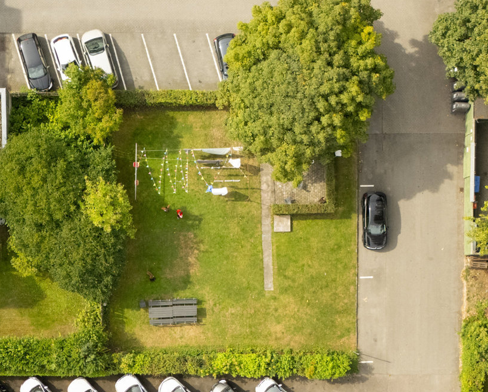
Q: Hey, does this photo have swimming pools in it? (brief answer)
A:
No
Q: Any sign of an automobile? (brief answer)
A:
Yes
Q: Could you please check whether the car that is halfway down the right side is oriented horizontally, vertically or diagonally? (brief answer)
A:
vertically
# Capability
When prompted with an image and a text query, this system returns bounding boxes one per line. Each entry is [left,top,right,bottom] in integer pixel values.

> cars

[114,375,147,392]
[68,377,98,392]
[19,31,52,90]
[255,380,285,392]
[85,28,119,84]
[52,33,85,76]
[361,190,390,250]
[20,376,51,392]
[207,379,238,392]
[214,29,236,62]
[160,378,191,392]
